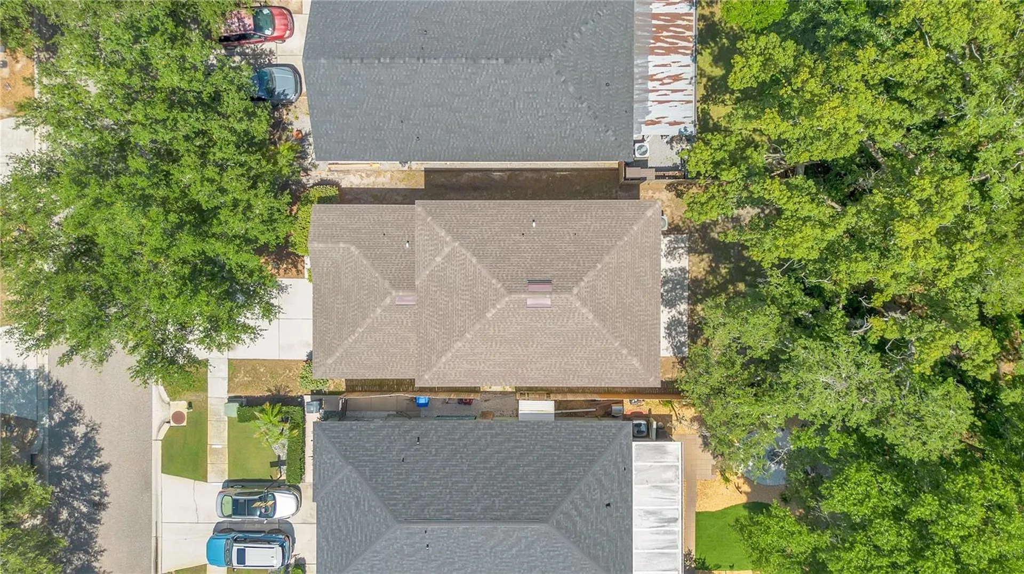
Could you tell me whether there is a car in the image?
Yes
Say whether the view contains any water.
No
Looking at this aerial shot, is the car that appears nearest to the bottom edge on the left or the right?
left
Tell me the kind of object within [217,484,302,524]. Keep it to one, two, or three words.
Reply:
car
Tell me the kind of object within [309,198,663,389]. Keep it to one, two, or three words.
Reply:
house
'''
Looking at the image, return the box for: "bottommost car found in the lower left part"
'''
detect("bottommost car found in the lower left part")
[208,529,293,573]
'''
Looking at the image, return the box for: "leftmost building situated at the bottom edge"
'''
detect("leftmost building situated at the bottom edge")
[311,419,634,574]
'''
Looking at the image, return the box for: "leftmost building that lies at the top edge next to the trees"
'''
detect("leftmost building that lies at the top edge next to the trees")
[303,0,635,167]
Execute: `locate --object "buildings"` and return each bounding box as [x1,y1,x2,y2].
[311,419,634,574]
[303,0,635,167]
[309,198,663,389]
